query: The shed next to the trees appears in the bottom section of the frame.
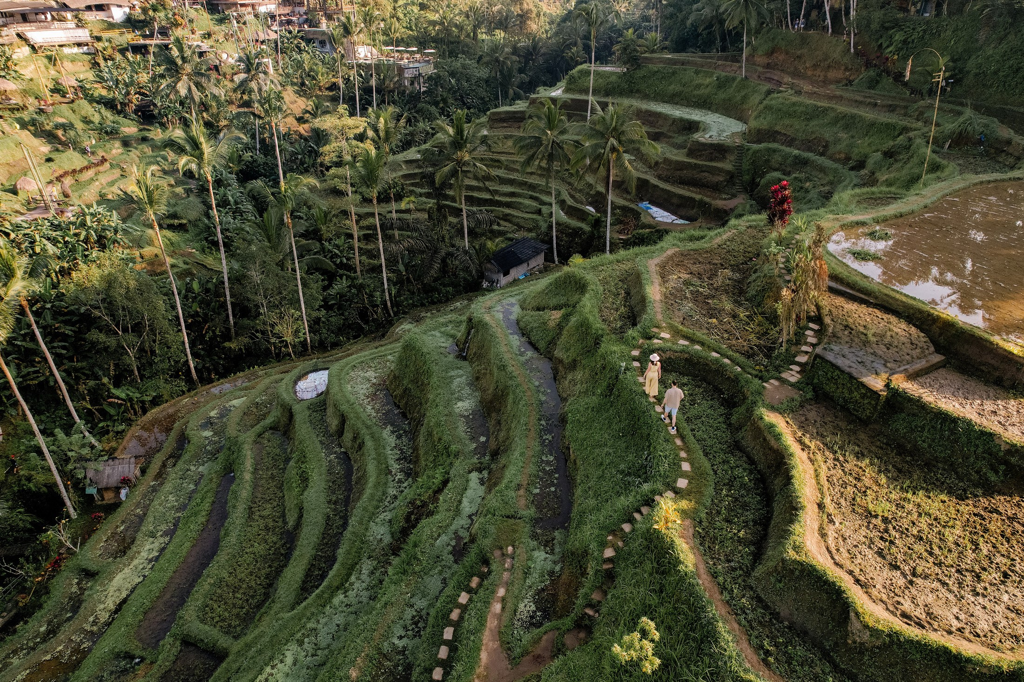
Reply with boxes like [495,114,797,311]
[83,457,140,504]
